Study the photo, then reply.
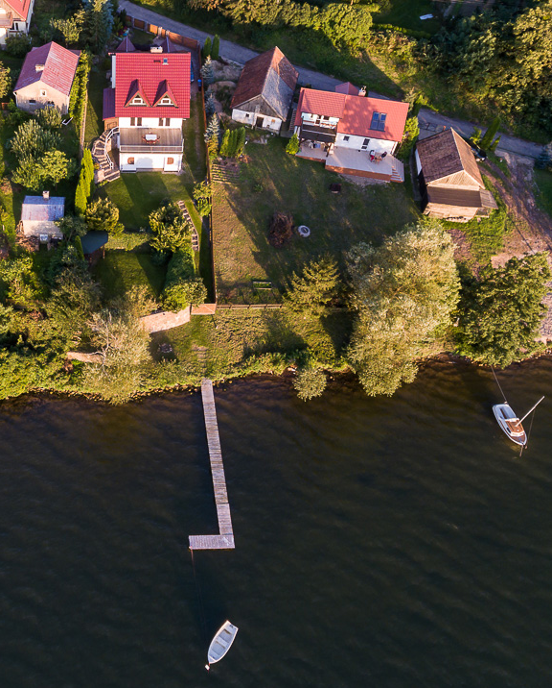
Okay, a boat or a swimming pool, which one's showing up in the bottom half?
boat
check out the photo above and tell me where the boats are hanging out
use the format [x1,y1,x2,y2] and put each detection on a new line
[492,391,536,455]
[209,619,239,664]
